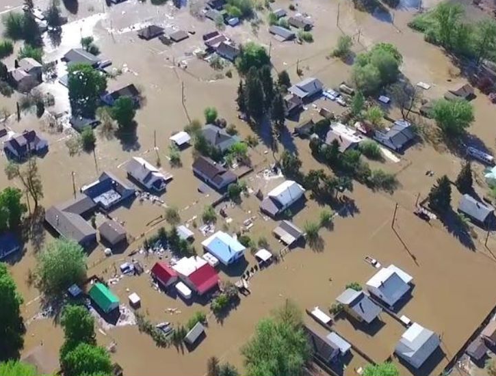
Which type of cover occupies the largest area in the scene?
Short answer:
water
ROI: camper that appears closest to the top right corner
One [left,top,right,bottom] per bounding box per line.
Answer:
[466,147,493,166]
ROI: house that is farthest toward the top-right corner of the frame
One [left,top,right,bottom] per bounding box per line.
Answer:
[438,85,480,104]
